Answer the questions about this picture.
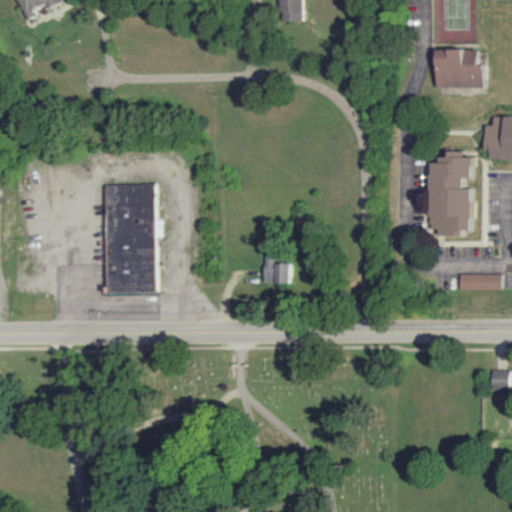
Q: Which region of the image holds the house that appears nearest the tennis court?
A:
top right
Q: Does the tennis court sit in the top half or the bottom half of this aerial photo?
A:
top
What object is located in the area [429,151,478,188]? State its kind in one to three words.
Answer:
building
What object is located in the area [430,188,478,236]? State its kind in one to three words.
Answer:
building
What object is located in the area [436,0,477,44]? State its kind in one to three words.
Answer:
tennis court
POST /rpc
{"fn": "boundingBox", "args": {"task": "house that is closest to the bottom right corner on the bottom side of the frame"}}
[490,370,511,389]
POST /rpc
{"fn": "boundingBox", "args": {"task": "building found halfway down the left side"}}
[104,182,166,294]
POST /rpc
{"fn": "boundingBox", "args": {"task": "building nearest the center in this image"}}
[264,257,292,284]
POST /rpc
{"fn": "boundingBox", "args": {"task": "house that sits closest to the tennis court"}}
[432,50,490,88]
